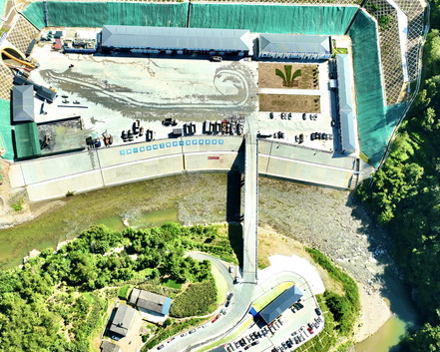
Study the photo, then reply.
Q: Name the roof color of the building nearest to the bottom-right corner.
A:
blue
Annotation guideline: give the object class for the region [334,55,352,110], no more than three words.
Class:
building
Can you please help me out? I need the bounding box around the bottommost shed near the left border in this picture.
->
[13,123,40,158]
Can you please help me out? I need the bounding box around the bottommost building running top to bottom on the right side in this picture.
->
[338,110,356,154]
